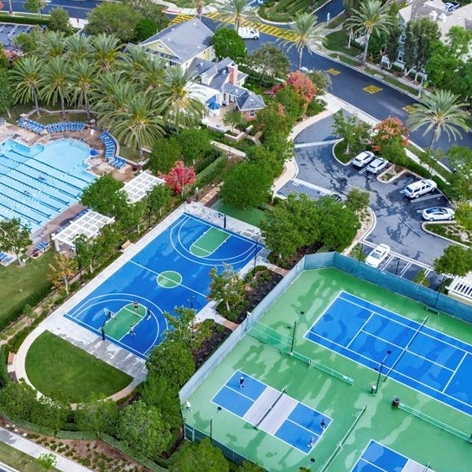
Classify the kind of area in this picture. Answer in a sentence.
The area seen from above is a sports ground.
